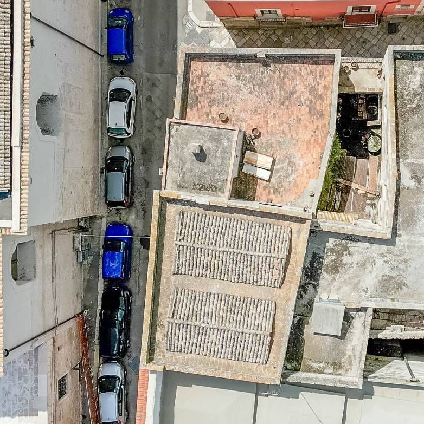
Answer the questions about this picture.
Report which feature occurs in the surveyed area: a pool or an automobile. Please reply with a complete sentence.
Visible in the photo is an automobile.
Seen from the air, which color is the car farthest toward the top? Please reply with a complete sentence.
The car farthest toward the top is blue.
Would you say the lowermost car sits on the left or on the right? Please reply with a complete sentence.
It is on the left.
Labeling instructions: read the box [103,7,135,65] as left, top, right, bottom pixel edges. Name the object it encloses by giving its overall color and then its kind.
blue car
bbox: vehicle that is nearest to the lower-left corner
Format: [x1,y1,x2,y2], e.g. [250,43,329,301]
[97,360,128,424]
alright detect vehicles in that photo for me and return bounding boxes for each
[98,222,131,282]
[101,145,135,209]
[97,360,128,424]
[102,76,136,139]
[103,7,135,65]
[95,286,131,360]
